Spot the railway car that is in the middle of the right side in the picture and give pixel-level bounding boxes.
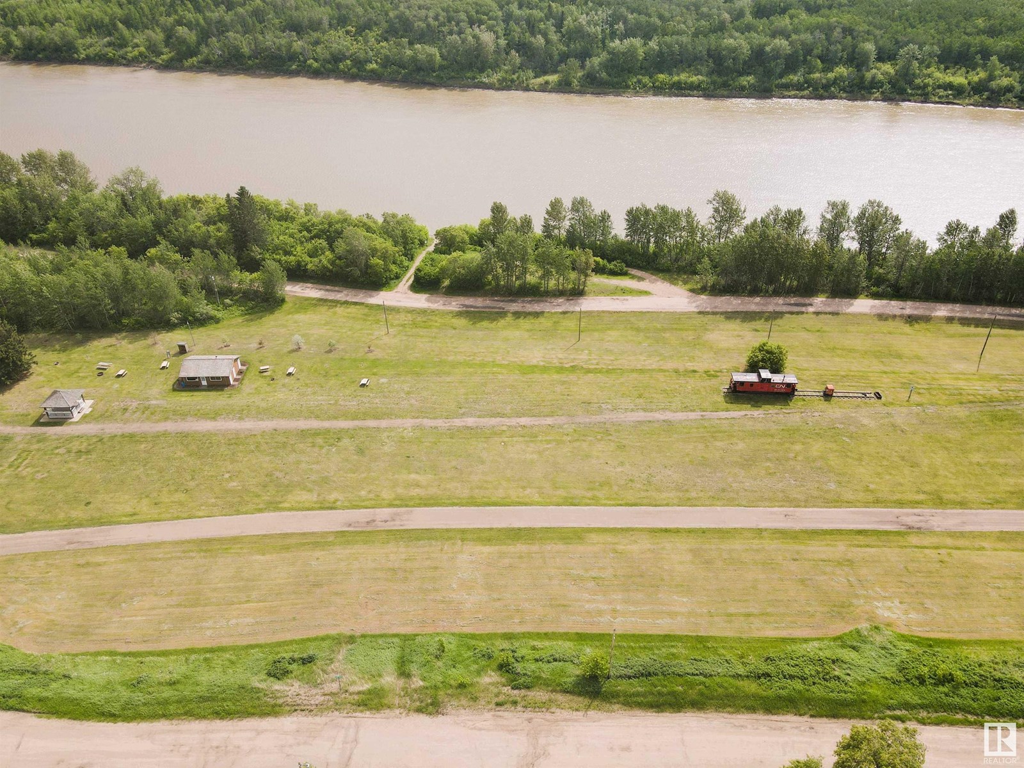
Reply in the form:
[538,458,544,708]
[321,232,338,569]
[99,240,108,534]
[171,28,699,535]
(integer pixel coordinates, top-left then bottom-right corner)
[826,383,838,395]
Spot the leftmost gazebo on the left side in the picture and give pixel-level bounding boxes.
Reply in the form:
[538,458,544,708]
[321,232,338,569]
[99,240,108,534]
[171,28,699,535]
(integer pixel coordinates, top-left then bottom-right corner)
[39,389,96,421]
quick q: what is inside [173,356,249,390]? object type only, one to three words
building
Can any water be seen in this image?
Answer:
Yes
